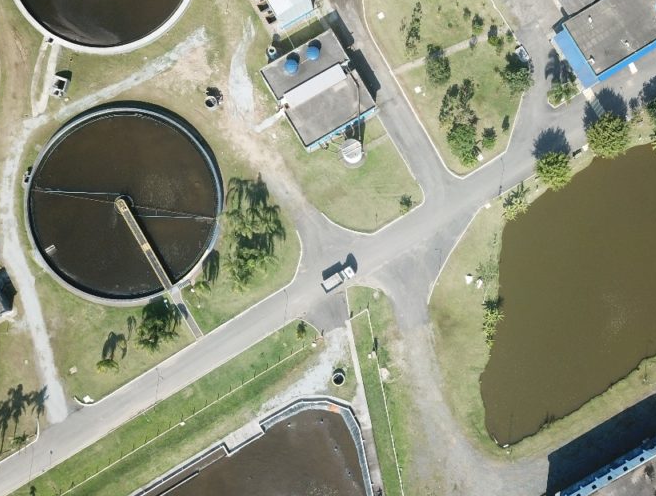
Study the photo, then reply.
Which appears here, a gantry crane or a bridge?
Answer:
bridge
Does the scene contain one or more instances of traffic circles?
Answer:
No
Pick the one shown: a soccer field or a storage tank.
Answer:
storage tank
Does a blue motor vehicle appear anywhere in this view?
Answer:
No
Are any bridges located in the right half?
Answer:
No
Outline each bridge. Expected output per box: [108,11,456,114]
[116,196,175,292]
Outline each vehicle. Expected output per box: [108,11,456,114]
[323,264,359,292]
[512,43,529,64]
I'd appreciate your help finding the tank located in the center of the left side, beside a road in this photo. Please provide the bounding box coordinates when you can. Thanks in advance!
[20,106,226,305]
